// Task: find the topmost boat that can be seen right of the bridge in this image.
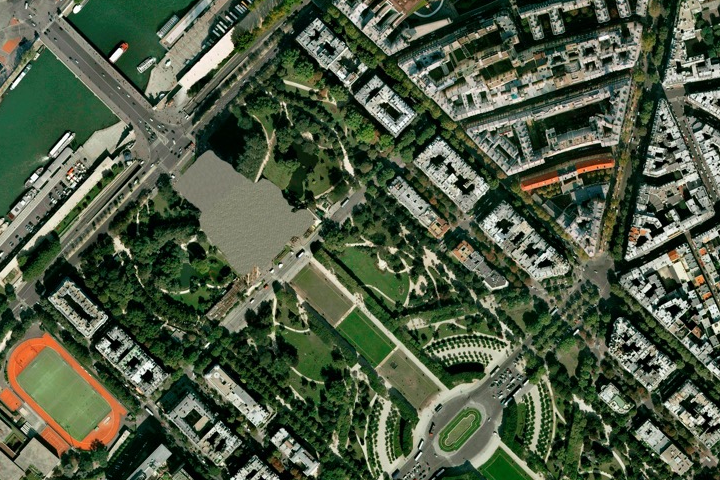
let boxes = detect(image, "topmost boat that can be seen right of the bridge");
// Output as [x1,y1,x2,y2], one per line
[156,17,178,38]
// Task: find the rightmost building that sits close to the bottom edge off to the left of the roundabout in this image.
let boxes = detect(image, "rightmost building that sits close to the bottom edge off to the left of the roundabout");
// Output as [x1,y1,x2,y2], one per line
[270,428,321,477]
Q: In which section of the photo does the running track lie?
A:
bottom left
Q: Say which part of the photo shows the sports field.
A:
bottom left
